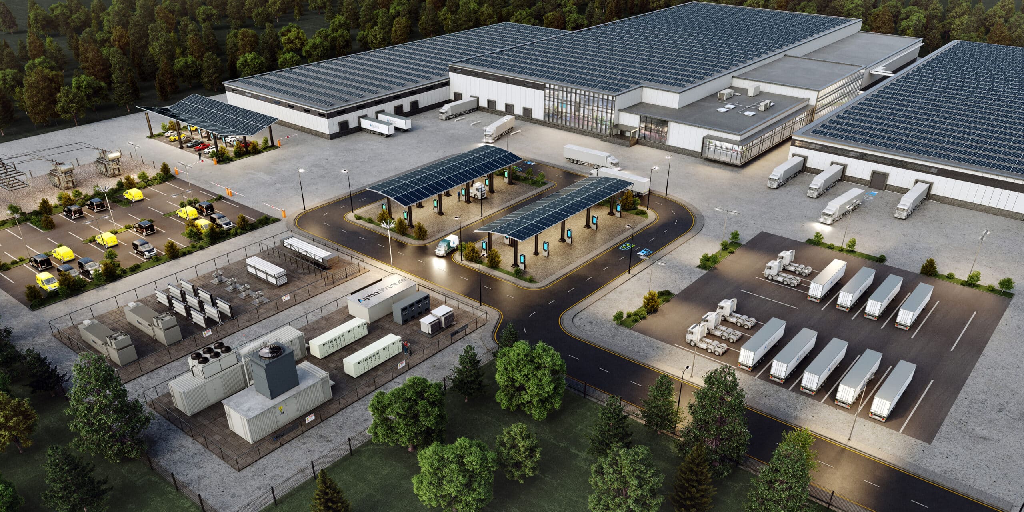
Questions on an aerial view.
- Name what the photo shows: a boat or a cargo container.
cargo container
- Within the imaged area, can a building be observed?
Yes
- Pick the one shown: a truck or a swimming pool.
truck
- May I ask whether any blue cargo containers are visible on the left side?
No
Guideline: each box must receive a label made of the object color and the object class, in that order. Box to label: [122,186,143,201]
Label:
yellow vehicle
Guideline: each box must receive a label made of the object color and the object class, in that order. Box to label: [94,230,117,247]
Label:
yellow vehicle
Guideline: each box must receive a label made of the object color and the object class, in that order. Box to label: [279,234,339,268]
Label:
white trailer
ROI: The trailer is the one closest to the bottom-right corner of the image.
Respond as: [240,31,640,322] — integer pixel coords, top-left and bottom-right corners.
[870,360,917,420]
